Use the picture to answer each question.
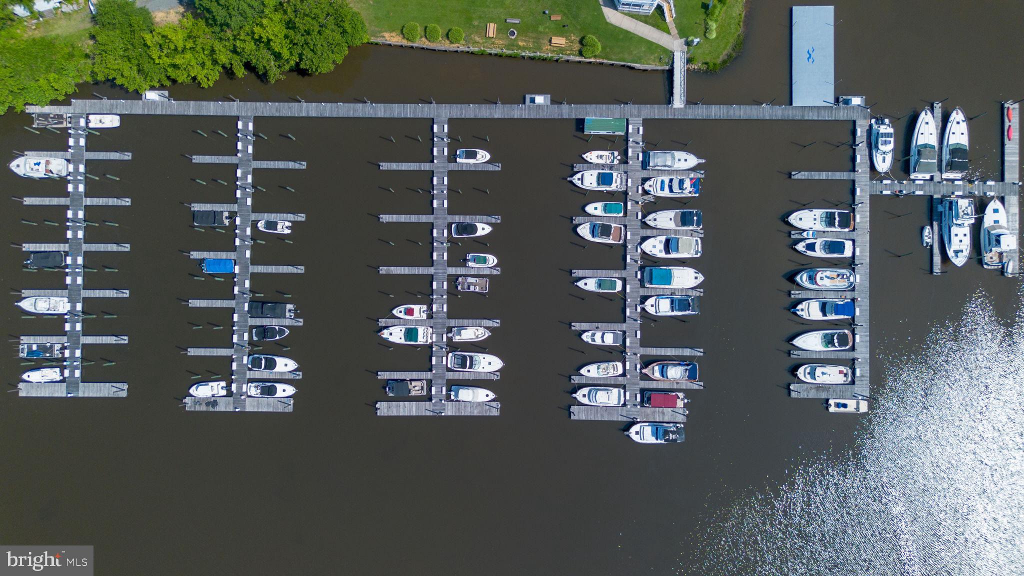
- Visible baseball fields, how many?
0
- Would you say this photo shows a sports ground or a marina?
marina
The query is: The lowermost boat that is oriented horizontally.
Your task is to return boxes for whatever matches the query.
[624,422,685,443]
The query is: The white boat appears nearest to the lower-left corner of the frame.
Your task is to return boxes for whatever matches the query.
[19,368,64,383]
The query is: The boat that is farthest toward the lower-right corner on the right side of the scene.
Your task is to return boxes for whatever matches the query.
[818,399,868,412]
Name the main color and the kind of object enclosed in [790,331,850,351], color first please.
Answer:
white boat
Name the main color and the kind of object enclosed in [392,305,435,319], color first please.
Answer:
white boat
